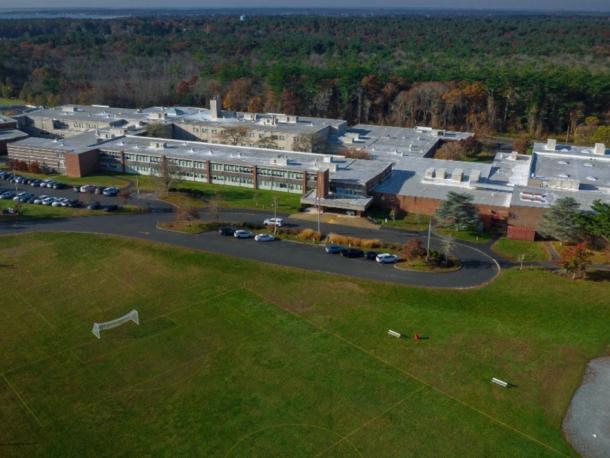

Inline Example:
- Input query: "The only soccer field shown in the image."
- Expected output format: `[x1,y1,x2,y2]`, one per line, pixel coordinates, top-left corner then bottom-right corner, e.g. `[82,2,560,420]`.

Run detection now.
[0,261,560,458]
